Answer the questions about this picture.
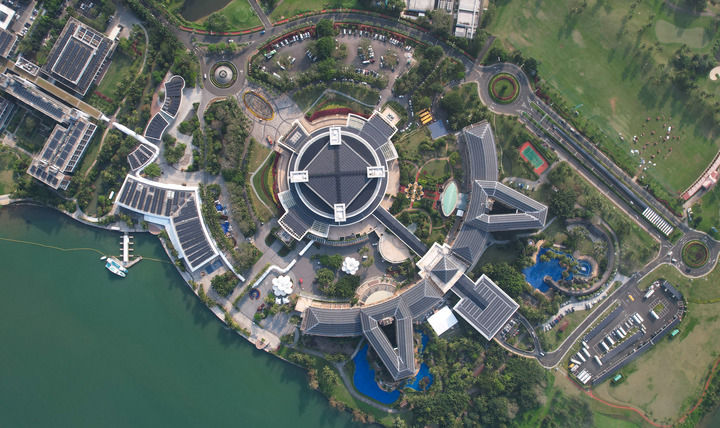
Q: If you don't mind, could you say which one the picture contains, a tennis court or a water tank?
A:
tennis court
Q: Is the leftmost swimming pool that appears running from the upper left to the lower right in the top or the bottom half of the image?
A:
bottom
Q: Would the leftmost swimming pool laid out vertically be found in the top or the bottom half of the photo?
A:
bottom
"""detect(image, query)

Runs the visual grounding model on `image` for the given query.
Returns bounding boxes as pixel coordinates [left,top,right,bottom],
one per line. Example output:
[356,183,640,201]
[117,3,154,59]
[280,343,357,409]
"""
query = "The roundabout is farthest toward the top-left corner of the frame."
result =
[199,52,247,98]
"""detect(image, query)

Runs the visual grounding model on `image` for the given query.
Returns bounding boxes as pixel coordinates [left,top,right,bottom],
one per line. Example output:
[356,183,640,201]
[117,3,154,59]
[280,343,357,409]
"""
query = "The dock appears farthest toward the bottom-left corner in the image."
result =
[111,232,143,268]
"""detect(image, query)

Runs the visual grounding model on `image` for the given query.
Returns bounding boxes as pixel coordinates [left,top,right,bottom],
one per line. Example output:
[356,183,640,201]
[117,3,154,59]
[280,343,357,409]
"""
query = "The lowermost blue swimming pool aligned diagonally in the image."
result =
[352,343,401,405]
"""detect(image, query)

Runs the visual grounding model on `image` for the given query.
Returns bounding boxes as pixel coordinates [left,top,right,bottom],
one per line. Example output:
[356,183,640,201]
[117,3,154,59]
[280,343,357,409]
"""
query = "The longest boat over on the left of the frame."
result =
[105,259,127,276]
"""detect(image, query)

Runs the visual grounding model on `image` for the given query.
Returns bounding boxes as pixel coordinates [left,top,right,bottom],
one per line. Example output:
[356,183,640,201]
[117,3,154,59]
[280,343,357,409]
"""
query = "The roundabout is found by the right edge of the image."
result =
[673,231,719,277]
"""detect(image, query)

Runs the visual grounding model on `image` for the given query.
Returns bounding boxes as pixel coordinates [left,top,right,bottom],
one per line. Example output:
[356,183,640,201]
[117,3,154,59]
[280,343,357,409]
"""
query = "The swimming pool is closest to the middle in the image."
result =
[441,180,459,217]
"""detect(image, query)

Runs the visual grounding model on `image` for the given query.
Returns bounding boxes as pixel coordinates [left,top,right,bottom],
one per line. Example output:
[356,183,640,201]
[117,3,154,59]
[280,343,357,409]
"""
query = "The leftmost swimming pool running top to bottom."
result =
[404,331,435,392]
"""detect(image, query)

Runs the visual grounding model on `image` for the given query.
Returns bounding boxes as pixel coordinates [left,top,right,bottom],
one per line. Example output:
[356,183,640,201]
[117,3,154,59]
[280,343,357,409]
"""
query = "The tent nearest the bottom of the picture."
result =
[427,304,458,335]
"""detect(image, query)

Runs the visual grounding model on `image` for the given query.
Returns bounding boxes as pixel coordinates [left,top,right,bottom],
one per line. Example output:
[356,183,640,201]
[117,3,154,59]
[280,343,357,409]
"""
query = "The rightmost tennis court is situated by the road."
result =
[519,141,550,176]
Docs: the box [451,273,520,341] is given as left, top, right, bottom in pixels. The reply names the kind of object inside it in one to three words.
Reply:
building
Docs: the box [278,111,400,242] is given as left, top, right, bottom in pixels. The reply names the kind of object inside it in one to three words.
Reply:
building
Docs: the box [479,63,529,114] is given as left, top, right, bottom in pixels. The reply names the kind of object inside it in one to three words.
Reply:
roundabout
